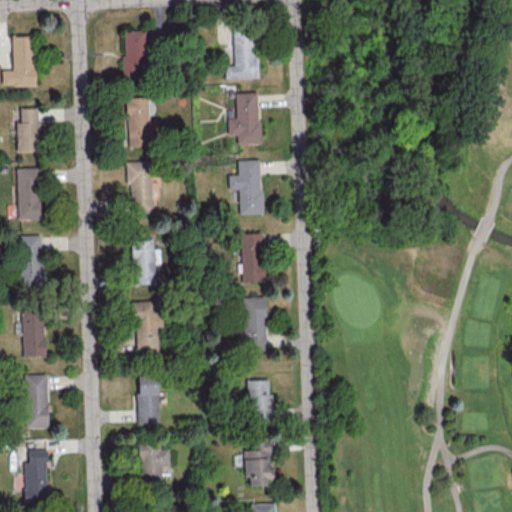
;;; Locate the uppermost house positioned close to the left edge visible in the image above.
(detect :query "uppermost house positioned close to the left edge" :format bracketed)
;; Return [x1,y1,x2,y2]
[2,36,37,87]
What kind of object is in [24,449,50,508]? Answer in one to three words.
house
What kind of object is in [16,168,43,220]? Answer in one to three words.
house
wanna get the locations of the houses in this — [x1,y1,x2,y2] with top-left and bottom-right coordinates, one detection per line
[244,444,276,488]
[26,375,50,430]
[242,234,266,282]
[20,234,42,288]
[16,168,43,220]
[2,36,37,87]
[132,238,156,286]
[138,377,160,426]
[17,107,40,153]
[244,297,268,354]
[227,28,262,80]
[135,302,164,352]
[122,31,147,84]
[254,504,277,512]
[230,160,264,216]
[128,98,148,149]
[23,304,48,358]
[138,446,171,480]
[229,93,262,145]
[126,162,154,216]
[24,449,50,508]
[248,379,273,422]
